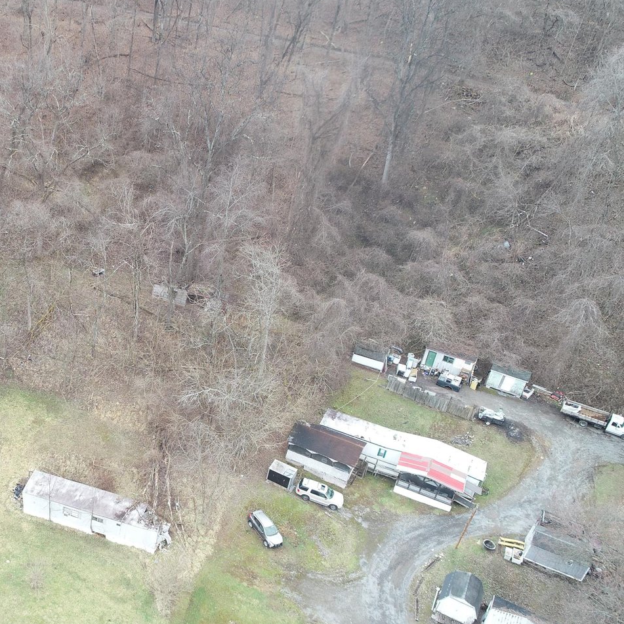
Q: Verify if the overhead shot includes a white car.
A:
Yes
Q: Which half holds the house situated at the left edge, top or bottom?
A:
bottom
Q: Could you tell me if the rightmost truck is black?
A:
No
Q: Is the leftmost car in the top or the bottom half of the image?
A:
bottom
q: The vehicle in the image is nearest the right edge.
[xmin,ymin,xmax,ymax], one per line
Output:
[563,400,624,441]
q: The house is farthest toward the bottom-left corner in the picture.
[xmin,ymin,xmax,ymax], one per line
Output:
[22,468,175,549]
